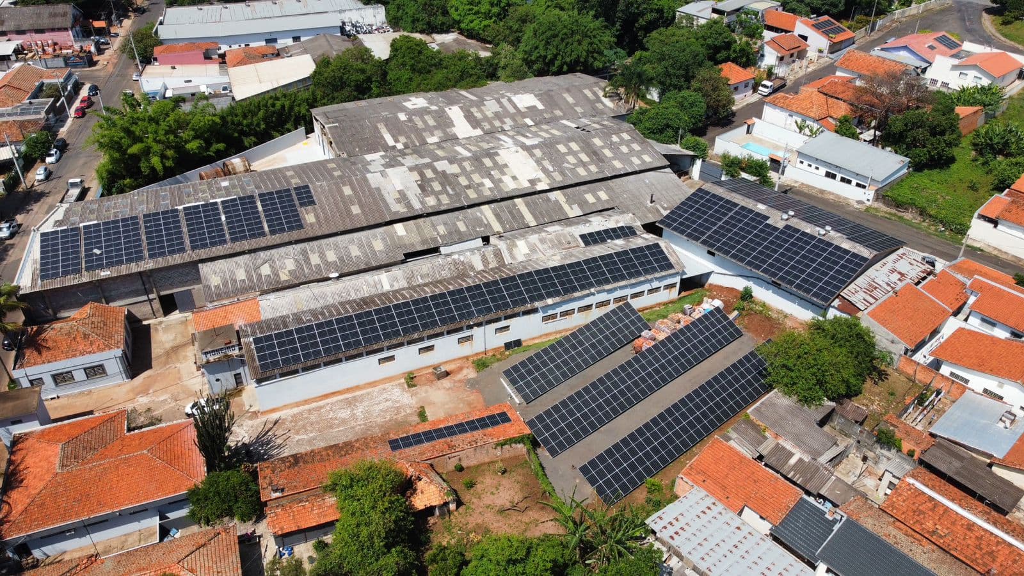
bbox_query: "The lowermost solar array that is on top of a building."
[389,412,511,451]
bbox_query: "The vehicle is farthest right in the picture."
[912,250,947,269]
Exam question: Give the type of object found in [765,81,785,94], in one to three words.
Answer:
vehicle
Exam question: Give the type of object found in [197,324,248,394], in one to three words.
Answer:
building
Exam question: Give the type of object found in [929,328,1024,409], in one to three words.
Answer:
house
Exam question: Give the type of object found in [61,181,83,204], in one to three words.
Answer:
truck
